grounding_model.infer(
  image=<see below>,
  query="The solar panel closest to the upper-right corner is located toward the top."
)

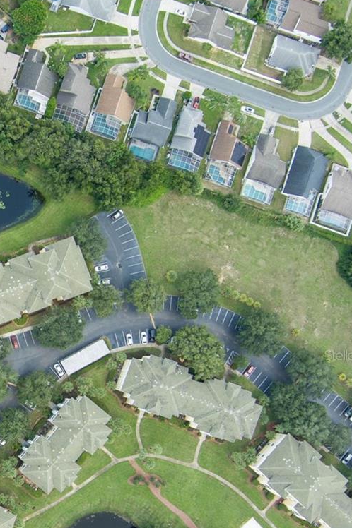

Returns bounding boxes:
[232,140,246,163]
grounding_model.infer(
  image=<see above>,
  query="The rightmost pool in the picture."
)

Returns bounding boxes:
[312,211,351,236]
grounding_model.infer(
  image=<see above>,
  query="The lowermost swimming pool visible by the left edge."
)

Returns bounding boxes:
[13,87,50,117]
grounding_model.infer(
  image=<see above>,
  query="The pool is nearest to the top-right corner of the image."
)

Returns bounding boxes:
[263,0,287,30]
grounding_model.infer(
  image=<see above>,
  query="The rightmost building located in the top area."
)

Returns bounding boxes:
[317,163,352,219]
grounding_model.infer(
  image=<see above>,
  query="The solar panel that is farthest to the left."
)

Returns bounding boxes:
[193,126,210,154]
